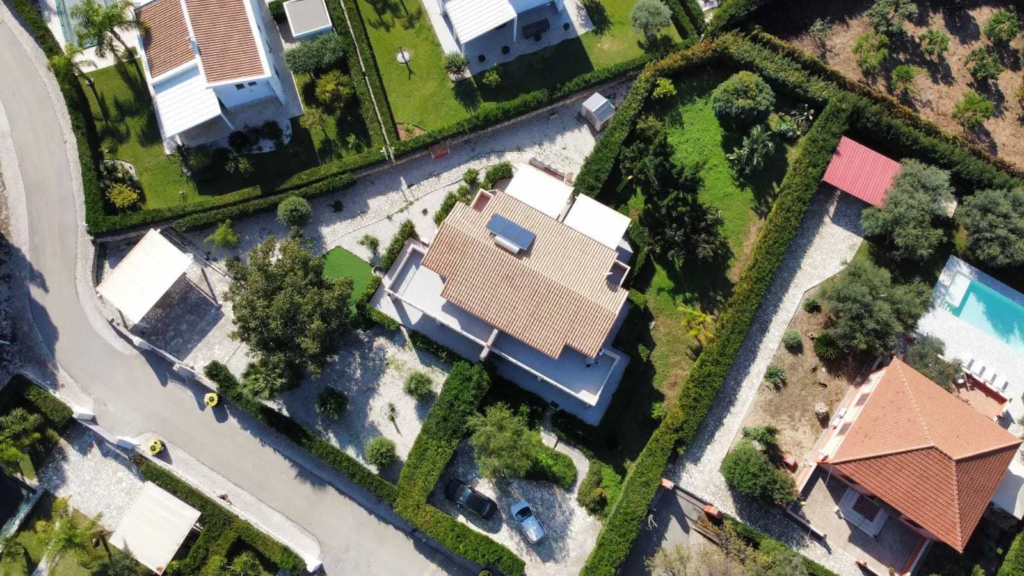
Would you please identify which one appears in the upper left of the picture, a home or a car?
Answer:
home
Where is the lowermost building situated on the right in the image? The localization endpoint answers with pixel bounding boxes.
[789,356,1024,576]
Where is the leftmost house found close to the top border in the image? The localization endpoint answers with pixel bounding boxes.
[128,0,289,119]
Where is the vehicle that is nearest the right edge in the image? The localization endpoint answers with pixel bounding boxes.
[508,496,550,548]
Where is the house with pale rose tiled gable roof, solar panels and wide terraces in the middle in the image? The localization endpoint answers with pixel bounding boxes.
[386,188,632,406]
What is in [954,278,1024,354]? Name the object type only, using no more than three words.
swimming pool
